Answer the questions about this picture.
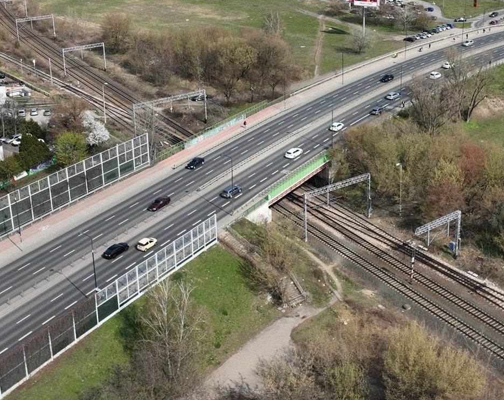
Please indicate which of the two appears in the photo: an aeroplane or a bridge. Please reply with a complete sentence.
It is a bridge that can be seen here.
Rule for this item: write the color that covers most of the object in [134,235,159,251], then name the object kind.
white car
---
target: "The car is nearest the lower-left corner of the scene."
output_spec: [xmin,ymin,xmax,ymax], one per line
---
[101,241,130,259]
